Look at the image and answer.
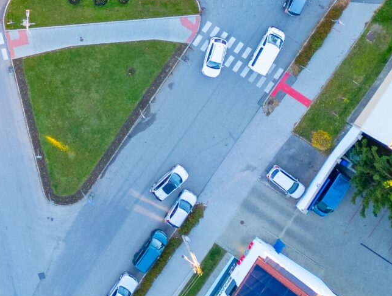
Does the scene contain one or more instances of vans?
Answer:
Yes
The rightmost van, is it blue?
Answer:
Yes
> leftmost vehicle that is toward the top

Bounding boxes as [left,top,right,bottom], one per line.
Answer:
[201,35,229,79]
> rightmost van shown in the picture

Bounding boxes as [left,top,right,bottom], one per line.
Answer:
[313,169,357,219]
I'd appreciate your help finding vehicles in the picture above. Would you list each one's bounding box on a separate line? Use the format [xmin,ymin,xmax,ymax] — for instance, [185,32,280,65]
[161,189,199,230]
[130,229,170,275]
[201,35,229,79]
[313,169,357,219]
[283,0,306,18]
[248,26,283,78]
[264,163,302,197]
[105,272,139,296]
[149,165,189,202]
